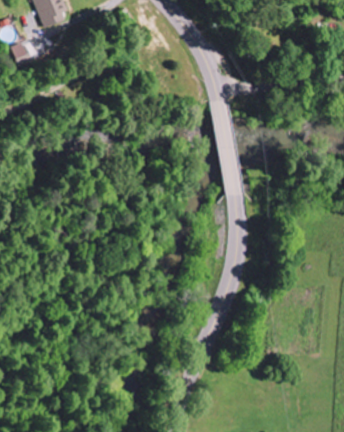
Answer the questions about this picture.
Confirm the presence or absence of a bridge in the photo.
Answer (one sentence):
Yes, there's a bridge down there.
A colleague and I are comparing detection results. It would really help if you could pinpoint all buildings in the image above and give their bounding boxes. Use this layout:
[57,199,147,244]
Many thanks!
[33,0,56,26]
[11,40,32,60]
